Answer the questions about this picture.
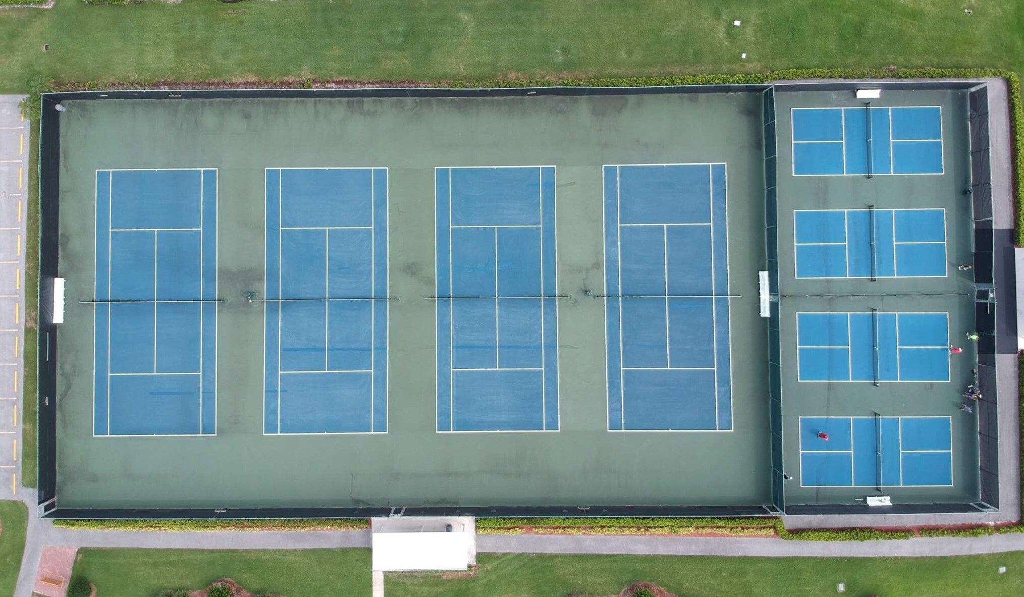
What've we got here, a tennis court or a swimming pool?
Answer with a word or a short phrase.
tennis court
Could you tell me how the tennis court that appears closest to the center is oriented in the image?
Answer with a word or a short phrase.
up and down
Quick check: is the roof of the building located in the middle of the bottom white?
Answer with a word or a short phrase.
Yes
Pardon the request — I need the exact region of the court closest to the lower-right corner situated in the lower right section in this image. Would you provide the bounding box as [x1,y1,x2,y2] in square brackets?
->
[799,416,953,487]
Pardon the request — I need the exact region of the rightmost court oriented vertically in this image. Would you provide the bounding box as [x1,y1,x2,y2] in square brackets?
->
[603,163,732,432]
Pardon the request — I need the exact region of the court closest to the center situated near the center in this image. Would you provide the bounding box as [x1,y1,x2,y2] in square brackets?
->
[434,165,560,433]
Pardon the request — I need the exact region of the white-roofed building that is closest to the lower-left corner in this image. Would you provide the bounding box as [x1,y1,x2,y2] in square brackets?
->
[373,524,468,572]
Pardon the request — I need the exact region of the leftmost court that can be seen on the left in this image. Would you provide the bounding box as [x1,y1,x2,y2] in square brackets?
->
[93,169,217,436]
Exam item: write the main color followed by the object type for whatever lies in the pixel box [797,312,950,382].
blue sports court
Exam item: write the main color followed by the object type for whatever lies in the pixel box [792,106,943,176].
blue sports court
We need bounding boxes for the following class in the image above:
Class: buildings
[1003,240,1024,373]
[373,524,468,572]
